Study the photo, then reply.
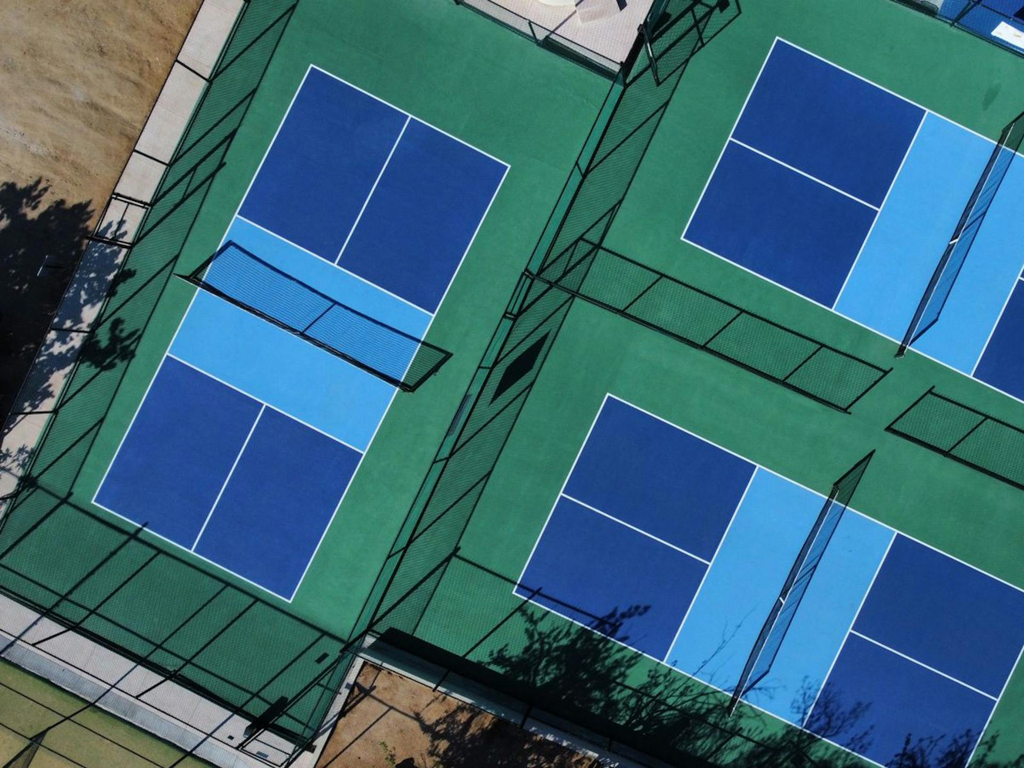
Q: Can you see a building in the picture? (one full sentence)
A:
No, I find no building anywhere in the image.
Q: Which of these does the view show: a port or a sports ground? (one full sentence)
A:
This image shows a sports ground.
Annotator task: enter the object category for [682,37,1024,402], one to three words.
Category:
sports court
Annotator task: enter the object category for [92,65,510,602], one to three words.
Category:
sports court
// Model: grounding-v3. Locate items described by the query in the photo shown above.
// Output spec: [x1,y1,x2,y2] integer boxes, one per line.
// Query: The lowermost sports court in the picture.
[513,393,1024,768]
